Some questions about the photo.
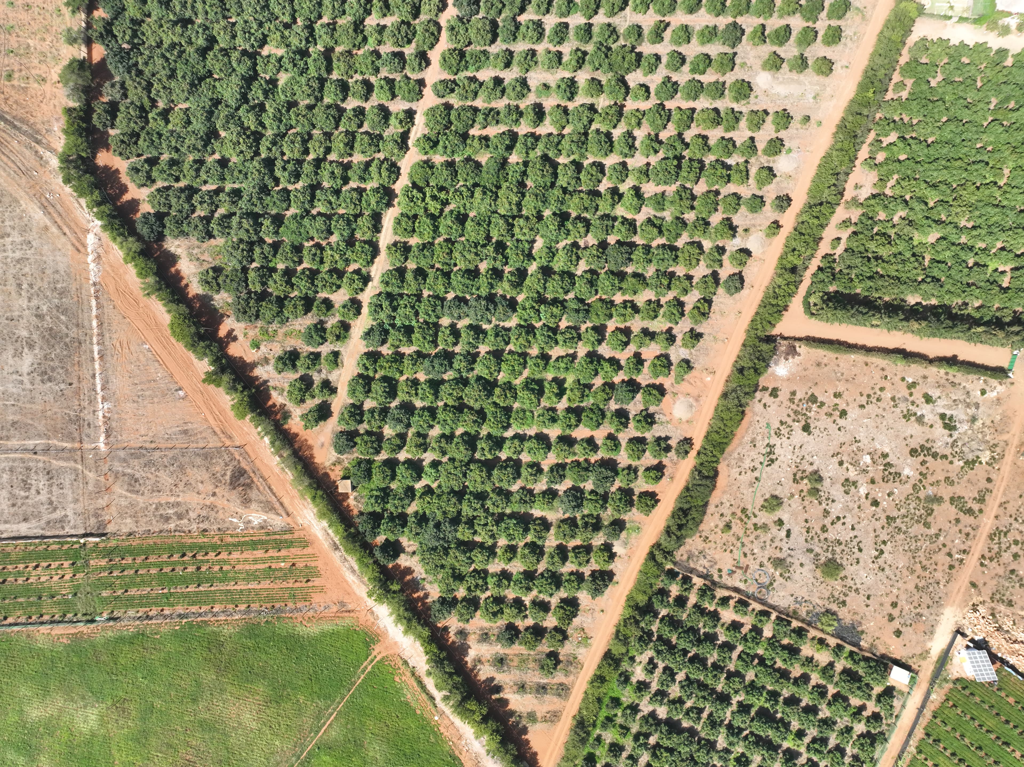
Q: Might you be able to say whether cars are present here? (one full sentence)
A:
No, I can't see a single car in this photo.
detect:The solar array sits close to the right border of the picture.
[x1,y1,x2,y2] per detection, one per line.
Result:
[966,645,997,682]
